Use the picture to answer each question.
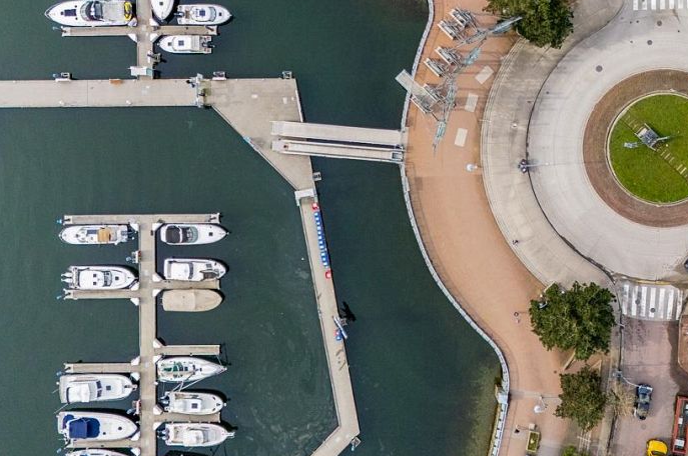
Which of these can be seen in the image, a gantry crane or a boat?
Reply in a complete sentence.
Looking from above, you can make out a boat.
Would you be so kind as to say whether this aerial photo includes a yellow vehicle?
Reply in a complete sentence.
Yes, the frame does contain a yellow vehicle.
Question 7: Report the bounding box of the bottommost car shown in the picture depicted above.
[646,440,667,456]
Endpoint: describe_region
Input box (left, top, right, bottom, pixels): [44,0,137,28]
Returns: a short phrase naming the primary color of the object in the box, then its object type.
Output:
white boat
